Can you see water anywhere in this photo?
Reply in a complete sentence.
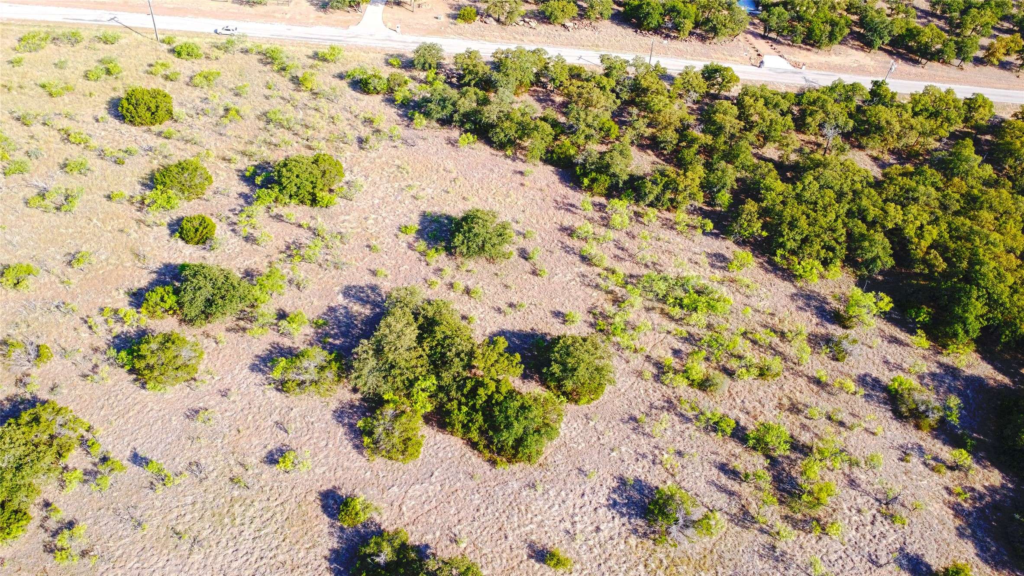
No, the picture contains no water.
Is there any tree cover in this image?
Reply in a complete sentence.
Yes, there's tree cover in this view.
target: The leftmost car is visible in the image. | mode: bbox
[214,23,240,35]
